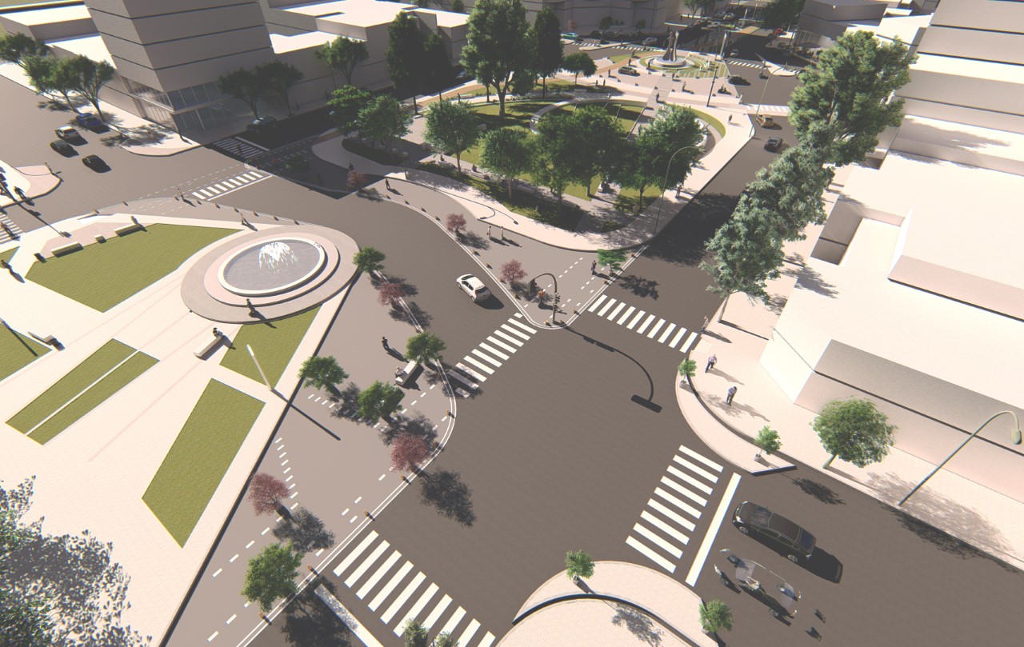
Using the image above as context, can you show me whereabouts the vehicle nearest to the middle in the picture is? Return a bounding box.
[454,273,492,300]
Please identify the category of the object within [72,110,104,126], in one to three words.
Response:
car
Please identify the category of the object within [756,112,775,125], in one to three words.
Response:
vehicle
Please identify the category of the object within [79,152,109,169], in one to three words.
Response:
car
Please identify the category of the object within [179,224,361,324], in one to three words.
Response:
fountain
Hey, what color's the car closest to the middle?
white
